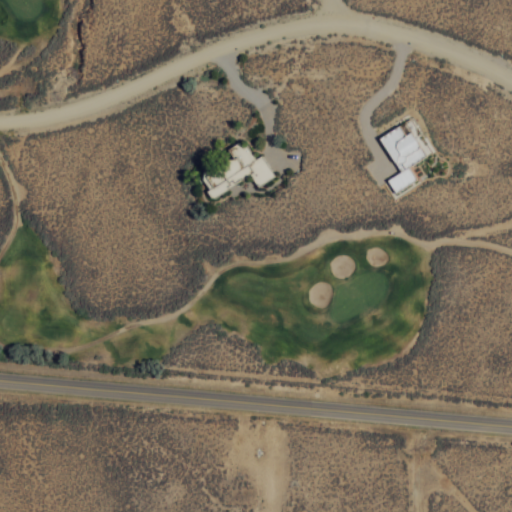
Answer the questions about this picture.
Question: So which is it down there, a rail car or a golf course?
golf course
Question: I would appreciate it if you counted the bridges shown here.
0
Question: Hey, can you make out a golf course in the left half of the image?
Yes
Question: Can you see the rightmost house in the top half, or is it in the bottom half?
top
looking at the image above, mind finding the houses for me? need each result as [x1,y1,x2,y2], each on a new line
[380,124,426,194]
[202,143,276,200]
